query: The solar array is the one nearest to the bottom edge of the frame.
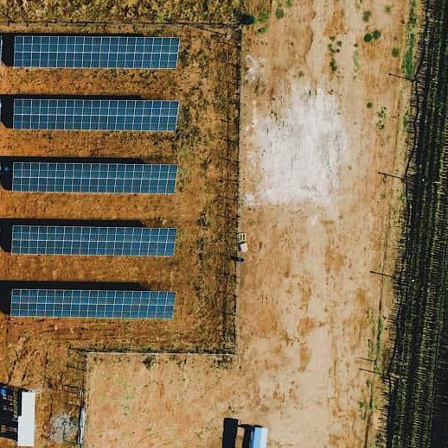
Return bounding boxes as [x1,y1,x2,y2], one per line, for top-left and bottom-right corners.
[12,289,176,318]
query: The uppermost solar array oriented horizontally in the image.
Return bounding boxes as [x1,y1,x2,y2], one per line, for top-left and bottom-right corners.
[14,36,179,68]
